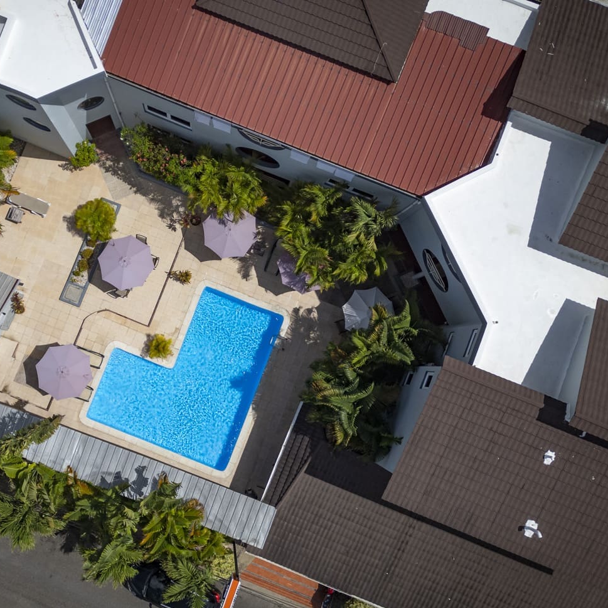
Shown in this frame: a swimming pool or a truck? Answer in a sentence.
The one in the frame is a swimming pool.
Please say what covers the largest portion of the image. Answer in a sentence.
The scene is dominated by buildings.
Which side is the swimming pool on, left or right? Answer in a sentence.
You can find the swimming pool on the left side of the picture.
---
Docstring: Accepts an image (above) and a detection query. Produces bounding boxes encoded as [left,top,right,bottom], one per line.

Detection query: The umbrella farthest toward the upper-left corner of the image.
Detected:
[99,236,158,294]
